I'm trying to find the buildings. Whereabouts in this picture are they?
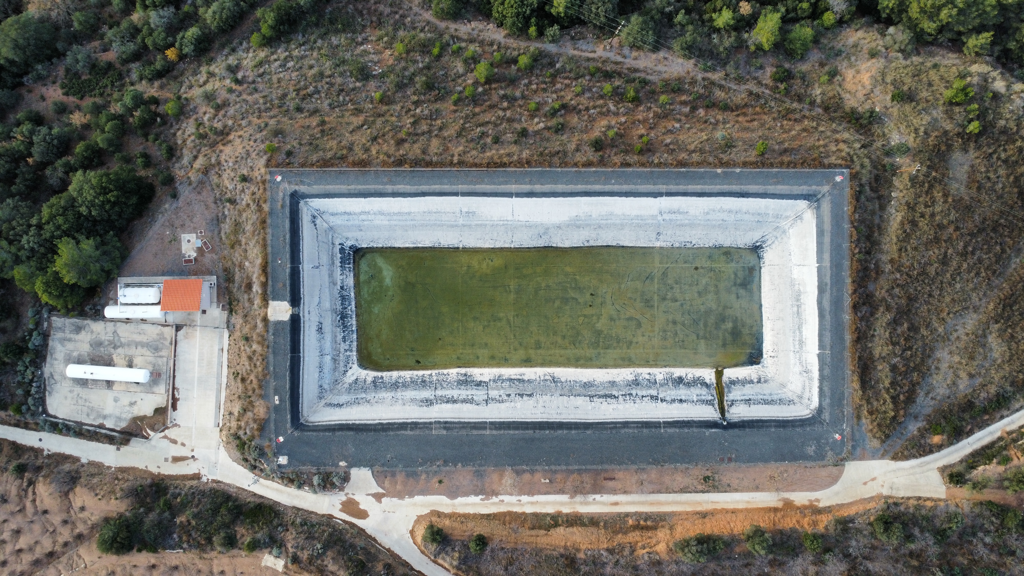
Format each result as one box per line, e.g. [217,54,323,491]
[160,279,209,312]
